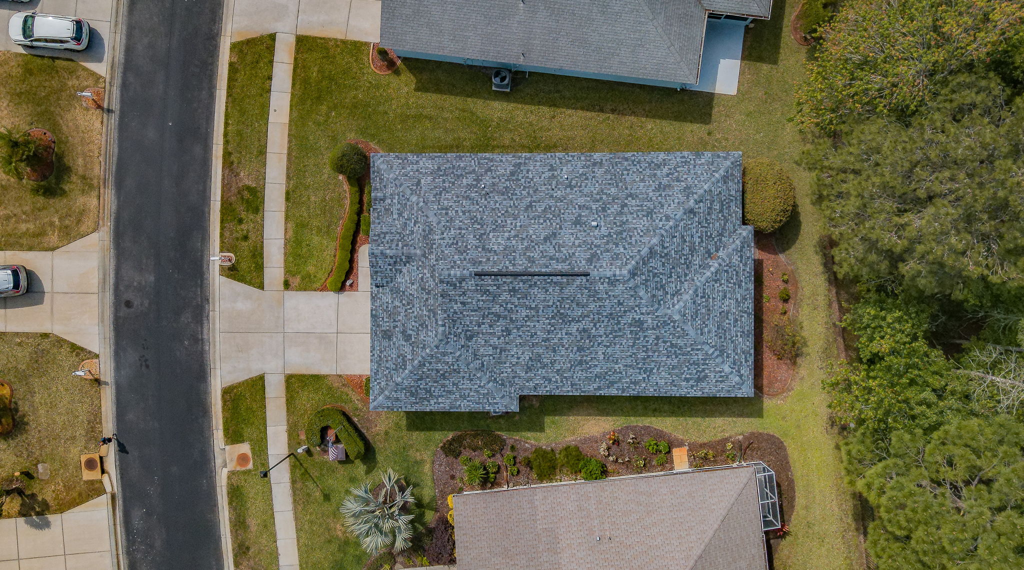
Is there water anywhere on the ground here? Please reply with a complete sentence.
No, water can't be seen anywhere here.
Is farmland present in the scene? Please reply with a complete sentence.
No, no farmland is visible.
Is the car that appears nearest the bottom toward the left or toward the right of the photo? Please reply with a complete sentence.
The car that appears nearest the bottom sits on the left side.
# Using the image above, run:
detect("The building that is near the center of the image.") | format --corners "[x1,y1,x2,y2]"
[369,152,754,412]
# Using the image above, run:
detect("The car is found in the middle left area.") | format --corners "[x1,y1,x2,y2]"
[0,264,33,297]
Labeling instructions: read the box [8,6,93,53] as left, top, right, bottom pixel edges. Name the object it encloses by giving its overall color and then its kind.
white car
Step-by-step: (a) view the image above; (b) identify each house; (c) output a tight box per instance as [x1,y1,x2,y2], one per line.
[453,458,770,570]
[369,152,754,412]
[381,0,773,94]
